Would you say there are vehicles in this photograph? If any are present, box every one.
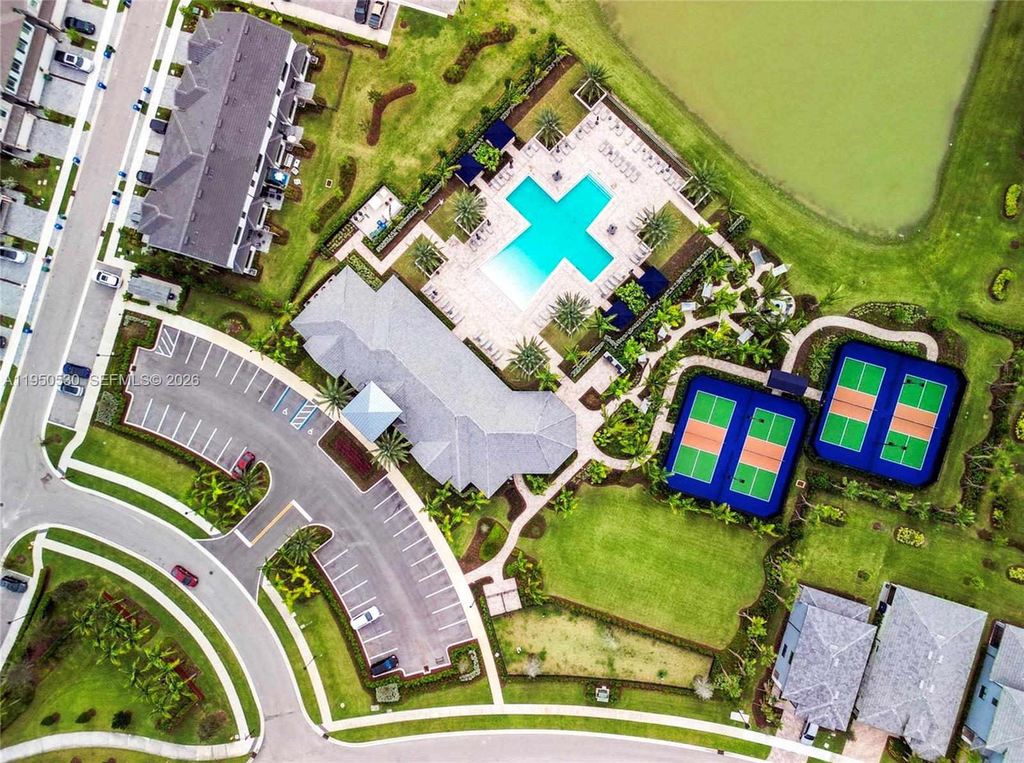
[0,248,28,266]
[124,209,141,224]
[56,380,87,397]
[798,718,819,748]
[53,49,95,73]
[368,654,401,677]
[132,168,158,188]
[232,450,257,479]
[0,574,29,592]
[350,605,382,629]
[144,116,169,134]
[121,0,139,17]
[370,0,389,29]
[353,0,370,26]
[62,362,93,379]
[170,564,200,589]
[90,269,125,288]
[63,15,97,35]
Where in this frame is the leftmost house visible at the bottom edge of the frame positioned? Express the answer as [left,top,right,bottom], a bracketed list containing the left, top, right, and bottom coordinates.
[768,584,877,732]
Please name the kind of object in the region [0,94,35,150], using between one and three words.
house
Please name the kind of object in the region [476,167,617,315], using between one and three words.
swimming pool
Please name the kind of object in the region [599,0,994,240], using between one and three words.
pond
